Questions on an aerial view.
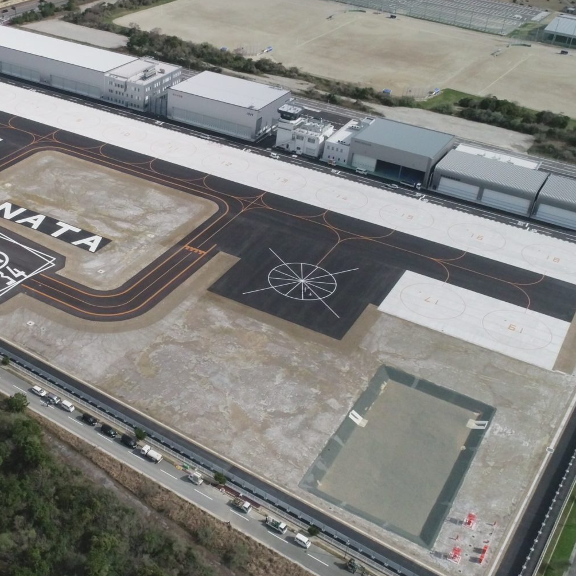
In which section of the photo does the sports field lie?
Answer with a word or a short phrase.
top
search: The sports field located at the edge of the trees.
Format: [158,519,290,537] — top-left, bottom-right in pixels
[117,0,576,122]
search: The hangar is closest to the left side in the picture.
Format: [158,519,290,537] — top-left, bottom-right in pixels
[0,25,141,100]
